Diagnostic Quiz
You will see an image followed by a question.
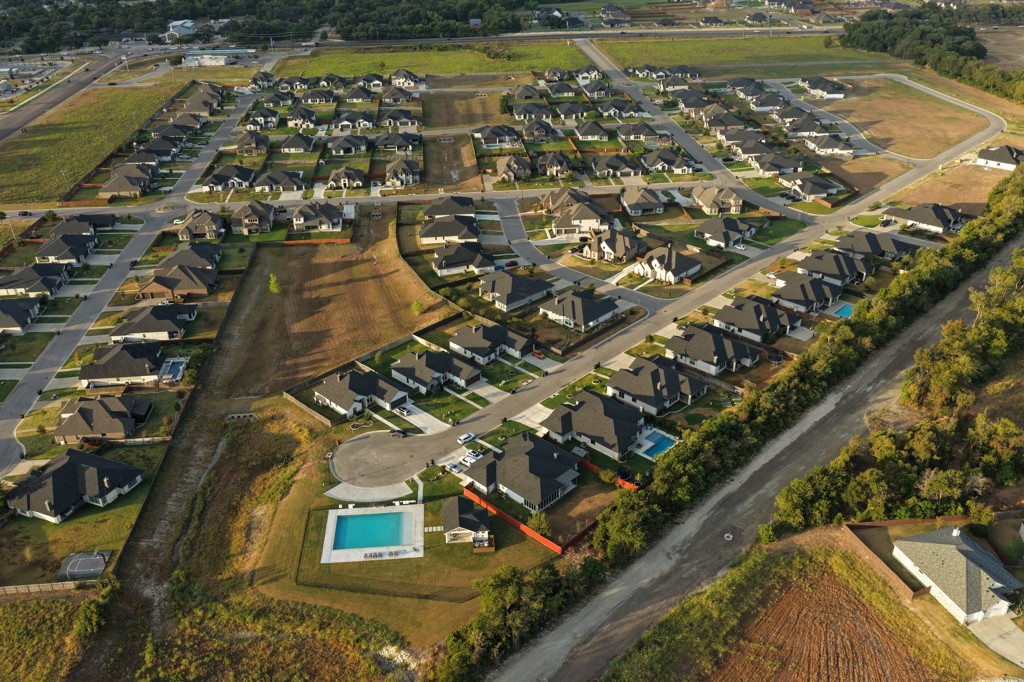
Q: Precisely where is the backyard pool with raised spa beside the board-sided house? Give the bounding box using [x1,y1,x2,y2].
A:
[161,357,190,381]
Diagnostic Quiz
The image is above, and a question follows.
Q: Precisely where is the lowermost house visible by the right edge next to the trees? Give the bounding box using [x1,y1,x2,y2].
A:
[886,517,1024,626]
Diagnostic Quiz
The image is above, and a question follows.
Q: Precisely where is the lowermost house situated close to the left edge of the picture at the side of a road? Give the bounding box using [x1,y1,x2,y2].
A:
[4,440,137,537]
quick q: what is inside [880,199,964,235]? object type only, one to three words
house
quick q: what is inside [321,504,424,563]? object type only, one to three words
swimming pool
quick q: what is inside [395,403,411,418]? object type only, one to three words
car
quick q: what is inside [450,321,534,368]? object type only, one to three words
house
